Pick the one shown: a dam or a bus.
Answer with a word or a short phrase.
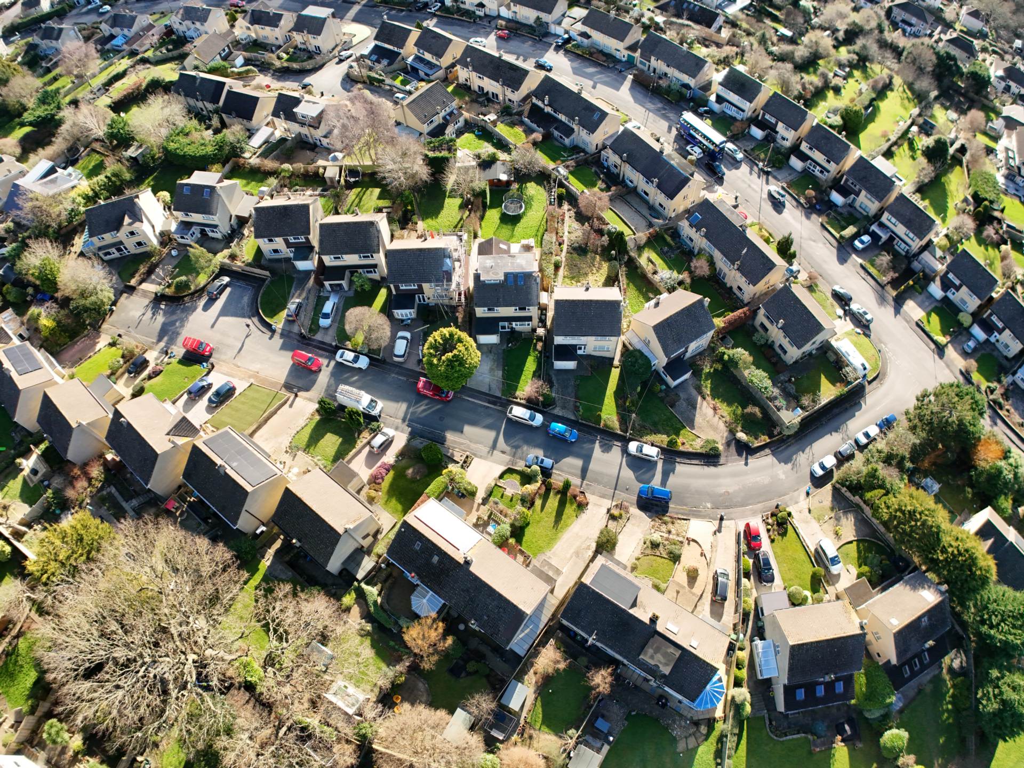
bus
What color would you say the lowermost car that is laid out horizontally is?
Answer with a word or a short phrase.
blue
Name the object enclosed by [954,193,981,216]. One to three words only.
shed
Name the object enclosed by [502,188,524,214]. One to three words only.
trampoline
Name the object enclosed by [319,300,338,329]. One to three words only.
car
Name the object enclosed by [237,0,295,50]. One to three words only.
house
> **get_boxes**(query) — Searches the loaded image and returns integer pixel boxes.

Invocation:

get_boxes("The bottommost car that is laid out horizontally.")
[638,485,673,505]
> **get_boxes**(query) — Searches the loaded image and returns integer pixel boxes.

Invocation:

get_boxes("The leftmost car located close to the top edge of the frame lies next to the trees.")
[8,32,25,45]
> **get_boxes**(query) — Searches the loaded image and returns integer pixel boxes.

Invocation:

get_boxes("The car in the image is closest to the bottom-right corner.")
[815,537,842,576]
